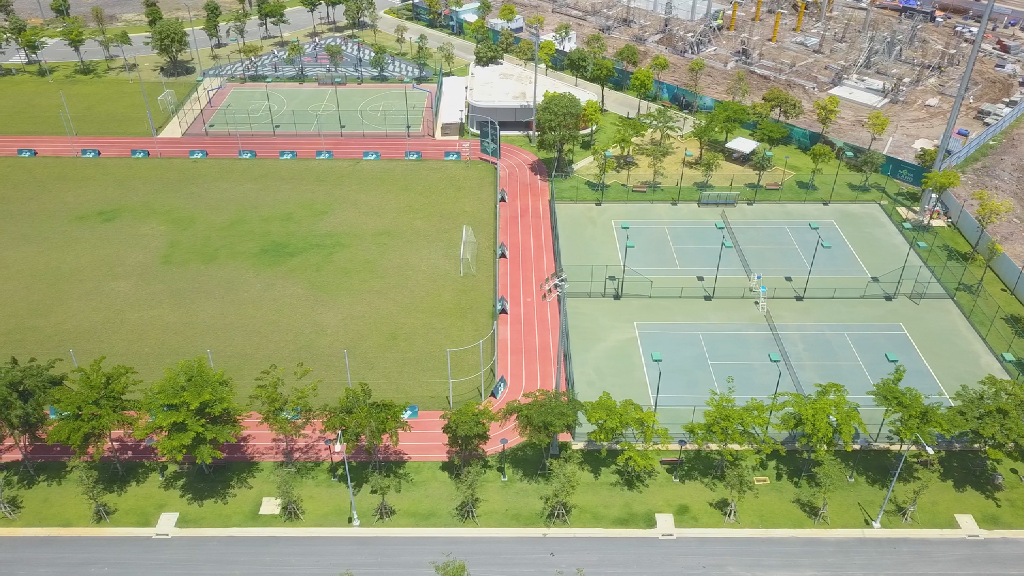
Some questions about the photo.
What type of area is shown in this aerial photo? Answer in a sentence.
This image shows a sports ground.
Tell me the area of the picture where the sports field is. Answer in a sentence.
The sports field sits in the left section of the image.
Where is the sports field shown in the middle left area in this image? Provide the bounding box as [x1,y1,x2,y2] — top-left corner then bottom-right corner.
[0,157,497,410]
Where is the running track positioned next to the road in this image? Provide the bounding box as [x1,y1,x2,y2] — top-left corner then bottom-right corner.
[0,136,568,461]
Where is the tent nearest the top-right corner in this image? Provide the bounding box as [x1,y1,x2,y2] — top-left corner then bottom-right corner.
[717,135,763,174]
